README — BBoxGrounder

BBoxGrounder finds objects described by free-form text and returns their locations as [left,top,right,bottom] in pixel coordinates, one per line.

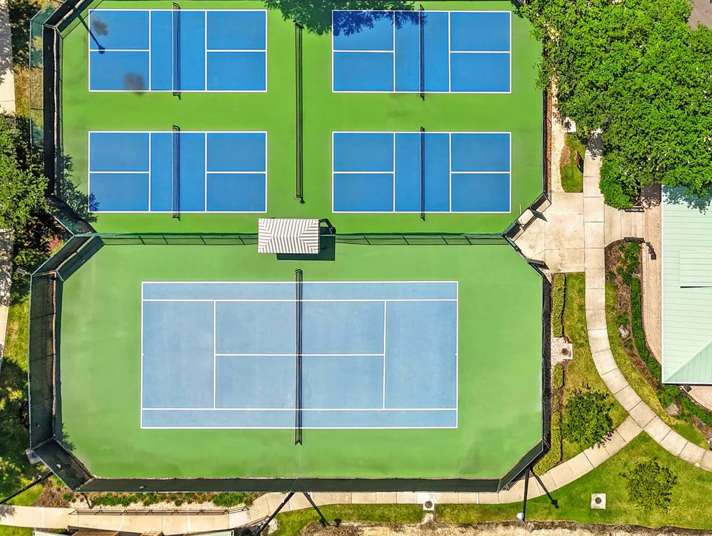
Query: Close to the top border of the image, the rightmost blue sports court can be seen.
[333,10,510,93]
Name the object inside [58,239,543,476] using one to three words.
tennis court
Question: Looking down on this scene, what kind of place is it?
sports ground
